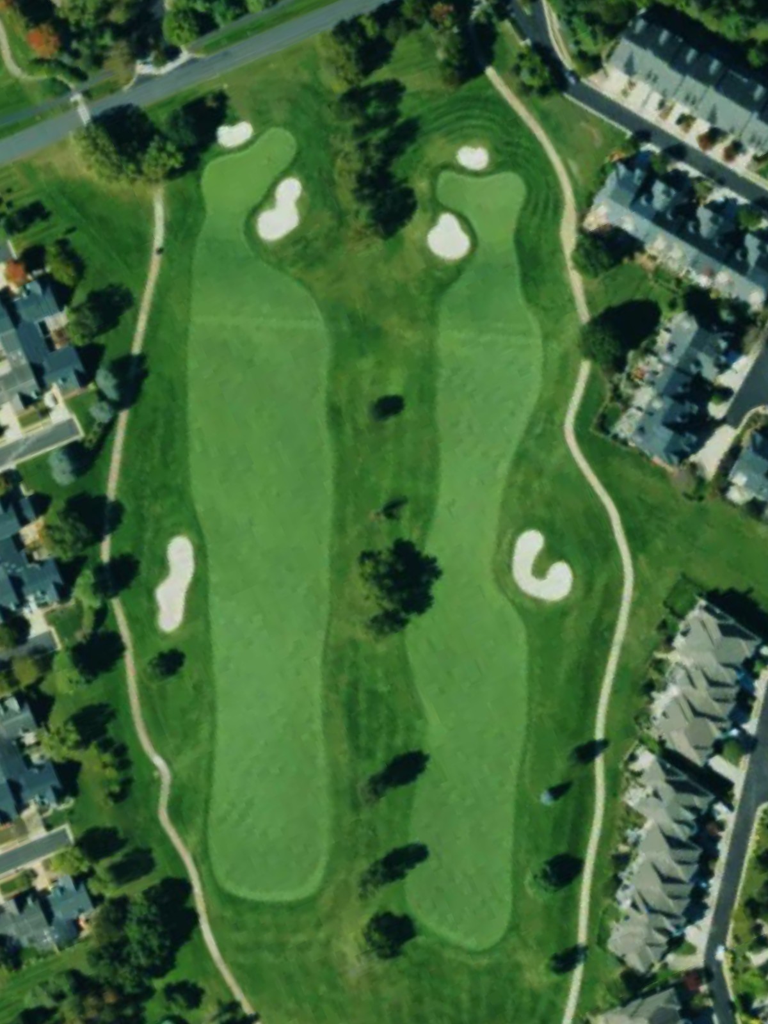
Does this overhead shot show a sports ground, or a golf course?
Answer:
golf course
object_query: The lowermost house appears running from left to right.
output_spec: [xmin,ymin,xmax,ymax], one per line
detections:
[596,984,688,1024]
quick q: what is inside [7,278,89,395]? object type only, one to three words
house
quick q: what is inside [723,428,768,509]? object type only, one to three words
house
